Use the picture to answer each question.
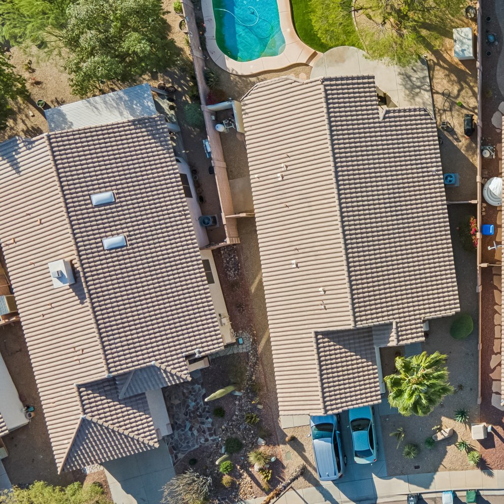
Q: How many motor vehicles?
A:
2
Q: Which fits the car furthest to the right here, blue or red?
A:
blue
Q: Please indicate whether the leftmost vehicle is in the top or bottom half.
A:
bottom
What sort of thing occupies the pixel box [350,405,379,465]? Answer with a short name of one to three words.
car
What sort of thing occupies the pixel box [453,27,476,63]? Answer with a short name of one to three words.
shed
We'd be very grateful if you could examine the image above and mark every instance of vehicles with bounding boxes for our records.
[315,413,349,479]
[350,405,379,465]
